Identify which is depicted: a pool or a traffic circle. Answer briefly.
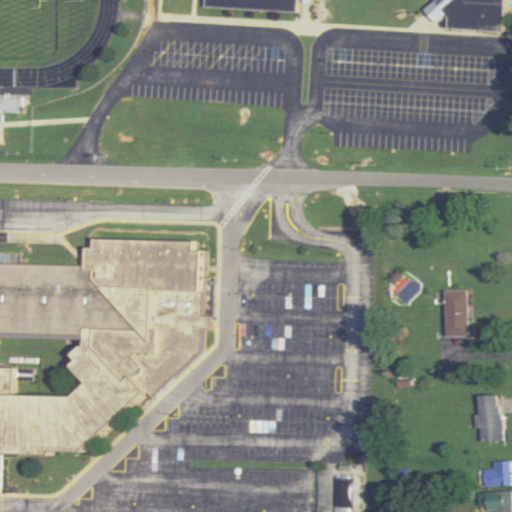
pool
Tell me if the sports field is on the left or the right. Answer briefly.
left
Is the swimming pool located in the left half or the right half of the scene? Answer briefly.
right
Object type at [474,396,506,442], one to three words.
house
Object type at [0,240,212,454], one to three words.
building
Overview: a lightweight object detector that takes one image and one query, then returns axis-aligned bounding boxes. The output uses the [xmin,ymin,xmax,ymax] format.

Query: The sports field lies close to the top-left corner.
[0,0,100,67]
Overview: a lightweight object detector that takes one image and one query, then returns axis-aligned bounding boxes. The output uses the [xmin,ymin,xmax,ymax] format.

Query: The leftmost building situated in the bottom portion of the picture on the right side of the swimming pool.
[438,290,470,338]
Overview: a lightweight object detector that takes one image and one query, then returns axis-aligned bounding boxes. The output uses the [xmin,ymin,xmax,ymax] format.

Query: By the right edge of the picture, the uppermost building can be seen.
[445,0,506,32]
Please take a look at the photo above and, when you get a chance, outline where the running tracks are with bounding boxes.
[0,0,118,95]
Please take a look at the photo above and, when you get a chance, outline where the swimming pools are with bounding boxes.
[390,272,422,306]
